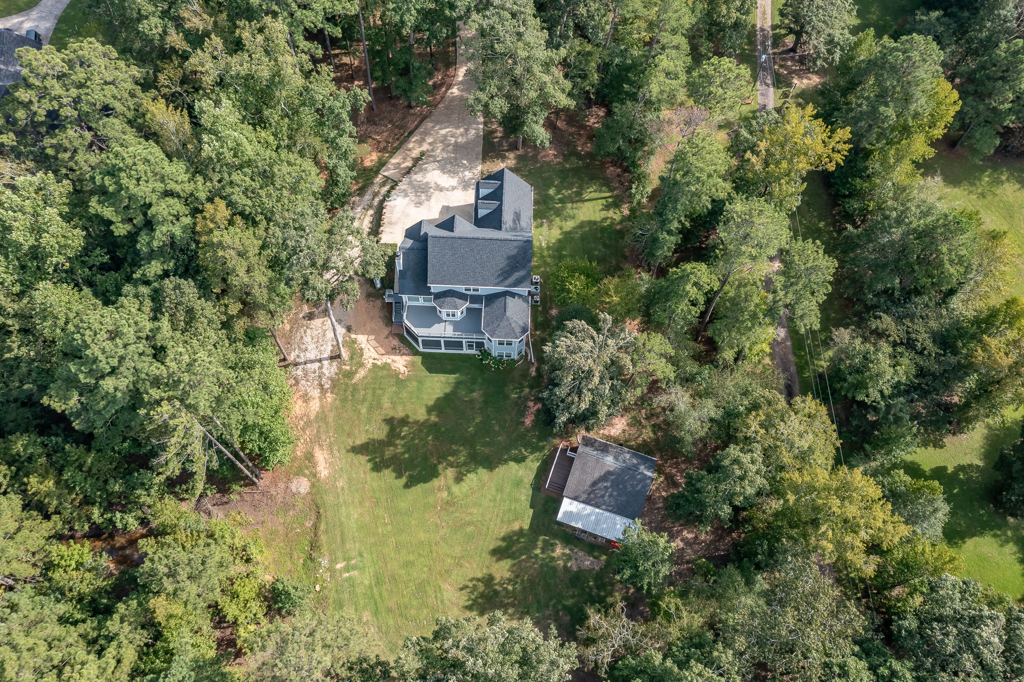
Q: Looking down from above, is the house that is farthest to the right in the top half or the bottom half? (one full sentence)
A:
The house that is farthest to the right sits in the bottom half of the picture.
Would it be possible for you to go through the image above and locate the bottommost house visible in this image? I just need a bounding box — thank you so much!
[545,433,657,548]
